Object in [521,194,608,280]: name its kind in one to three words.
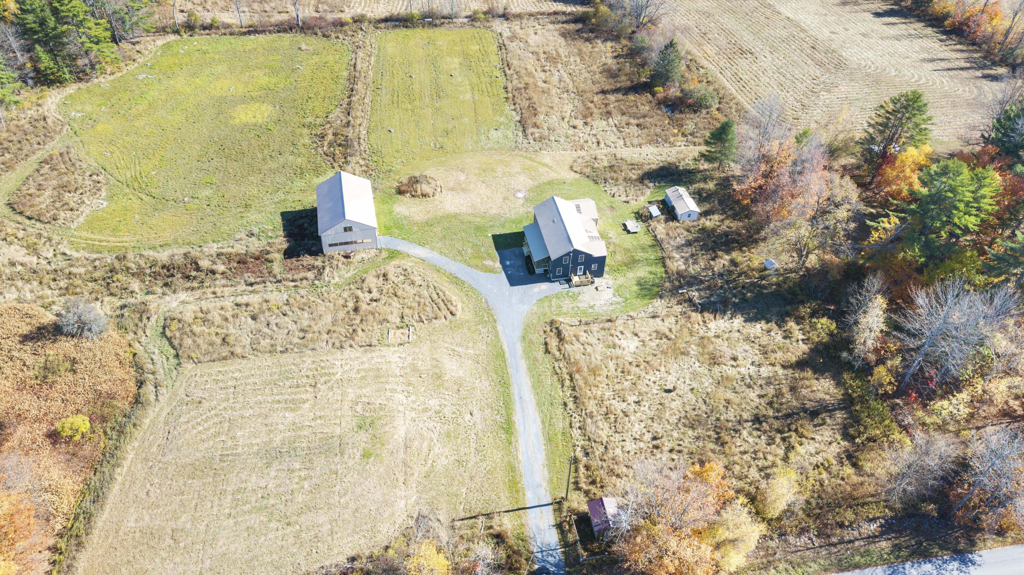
house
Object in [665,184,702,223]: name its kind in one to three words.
shed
